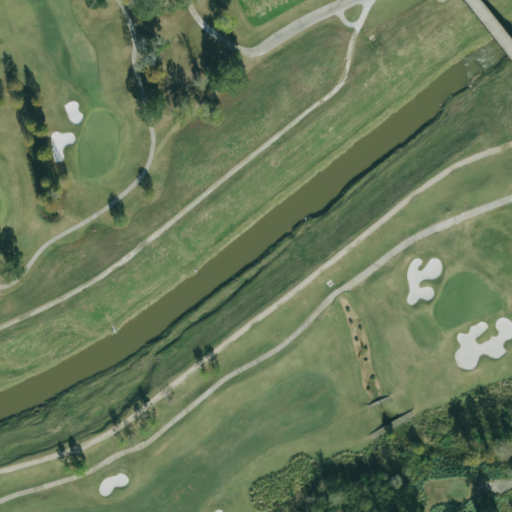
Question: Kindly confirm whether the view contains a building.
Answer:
No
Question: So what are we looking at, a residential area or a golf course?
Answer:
golf course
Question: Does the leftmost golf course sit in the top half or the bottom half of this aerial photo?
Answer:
top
